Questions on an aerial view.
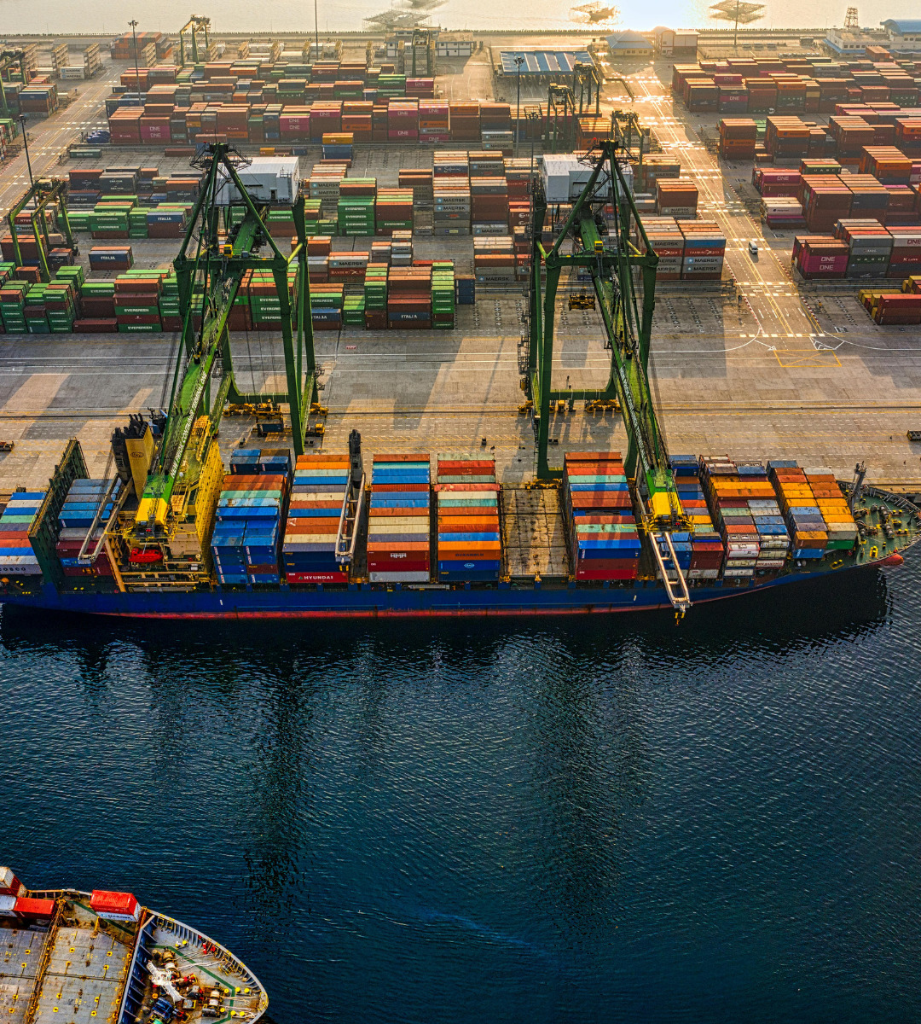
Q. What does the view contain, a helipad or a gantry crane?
gantry crane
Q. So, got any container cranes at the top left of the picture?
Yes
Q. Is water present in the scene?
Yes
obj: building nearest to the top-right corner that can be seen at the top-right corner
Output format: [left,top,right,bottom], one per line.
[863,3,921,50]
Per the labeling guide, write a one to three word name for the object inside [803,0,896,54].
building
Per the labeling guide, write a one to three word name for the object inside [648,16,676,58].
building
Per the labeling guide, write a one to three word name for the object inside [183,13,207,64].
container crane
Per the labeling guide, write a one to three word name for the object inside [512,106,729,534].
container crane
